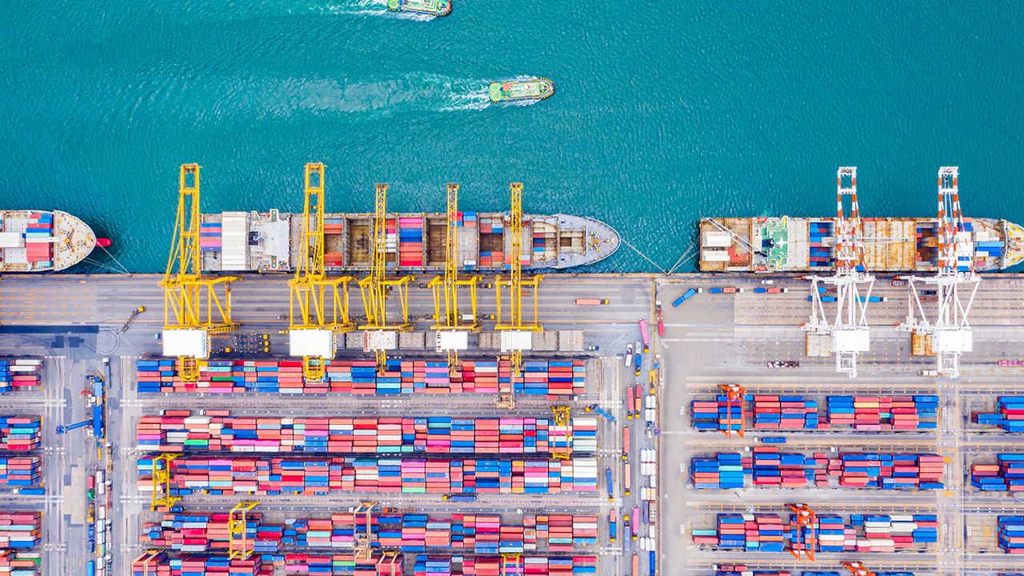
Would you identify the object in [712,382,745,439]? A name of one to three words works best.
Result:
container crane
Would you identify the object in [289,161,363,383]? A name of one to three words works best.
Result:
container crane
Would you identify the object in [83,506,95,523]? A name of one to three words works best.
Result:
vehicle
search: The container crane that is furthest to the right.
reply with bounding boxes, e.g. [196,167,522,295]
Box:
[881,163,980,382]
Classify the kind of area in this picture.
port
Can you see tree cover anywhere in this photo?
No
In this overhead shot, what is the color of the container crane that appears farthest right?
white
